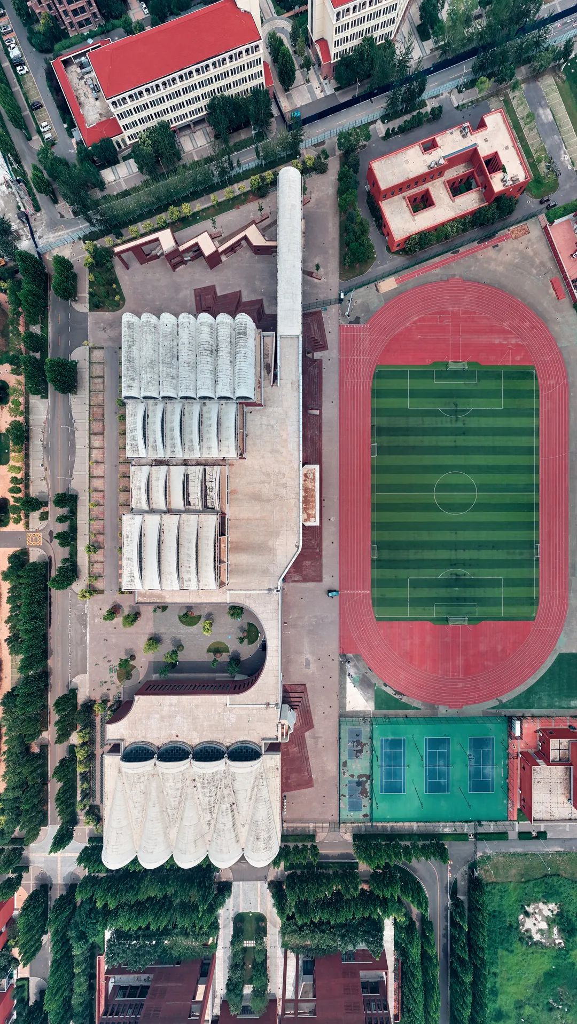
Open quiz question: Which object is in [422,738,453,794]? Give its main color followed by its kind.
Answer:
blue tennis court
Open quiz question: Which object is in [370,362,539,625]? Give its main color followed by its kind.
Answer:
green sports field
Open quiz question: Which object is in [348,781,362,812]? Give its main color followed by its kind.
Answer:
blue sports court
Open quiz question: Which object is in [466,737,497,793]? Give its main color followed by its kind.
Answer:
blue tennis court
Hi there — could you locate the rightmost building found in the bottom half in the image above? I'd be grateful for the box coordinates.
[517,723,577,825]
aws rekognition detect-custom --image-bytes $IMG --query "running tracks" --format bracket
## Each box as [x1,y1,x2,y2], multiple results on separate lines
[340,278,568,709]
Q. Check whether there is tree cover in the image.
Yes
